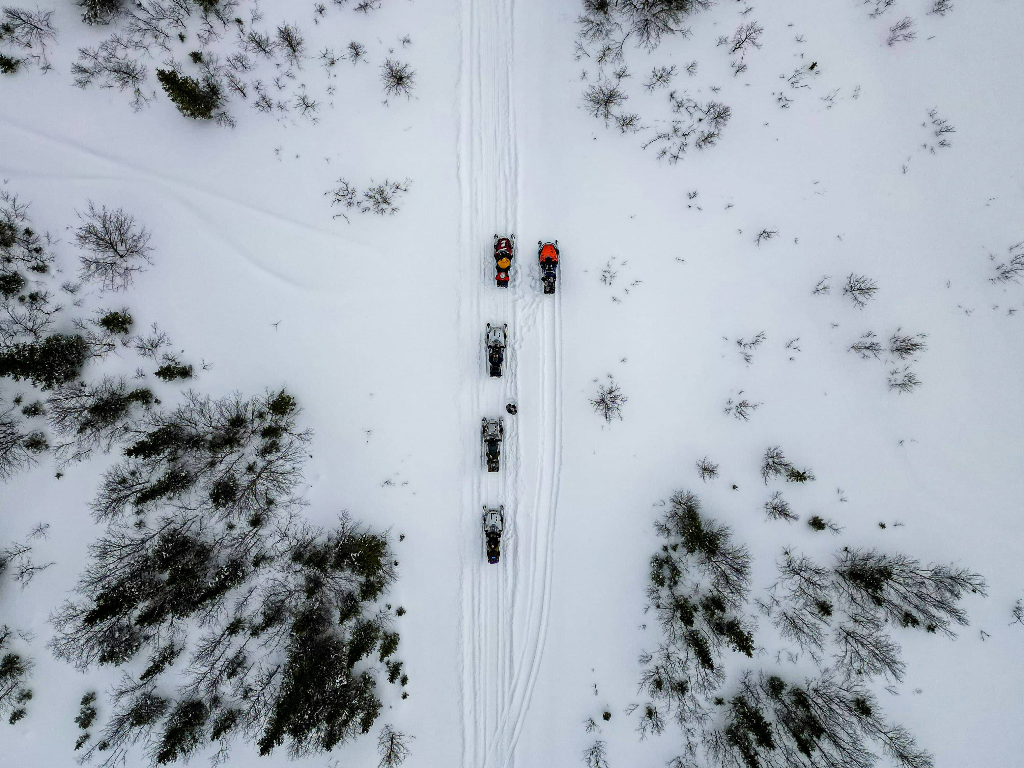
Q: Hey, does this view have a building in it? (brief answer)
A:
No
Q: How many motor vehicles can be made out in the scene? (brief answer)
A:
5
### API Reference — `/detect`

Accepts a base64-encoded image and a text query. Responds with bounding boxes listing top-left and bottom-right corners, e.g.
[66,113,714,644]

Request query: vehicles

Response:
[483,505,503,561]
[486,322,507,378]
[483,416,503,473]
[493,233,514,289]
[538,239,560,295]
